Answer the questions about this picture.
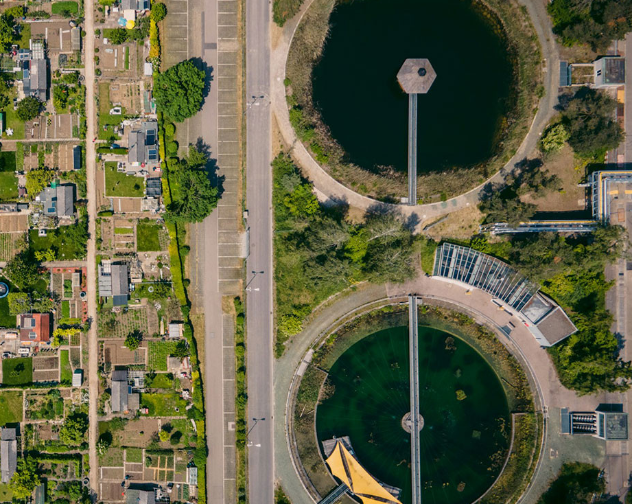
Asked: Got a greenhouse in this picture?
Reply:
Yes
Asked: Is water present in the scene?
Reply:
Yes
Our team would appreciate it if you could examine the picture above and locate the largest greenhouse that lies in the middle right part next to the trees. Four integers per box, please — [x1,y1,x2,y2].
[433,244,547,323]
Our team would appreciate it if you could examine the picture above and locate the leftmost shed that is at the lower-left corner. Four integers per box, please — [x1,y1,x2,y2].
[1,426,17,484]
